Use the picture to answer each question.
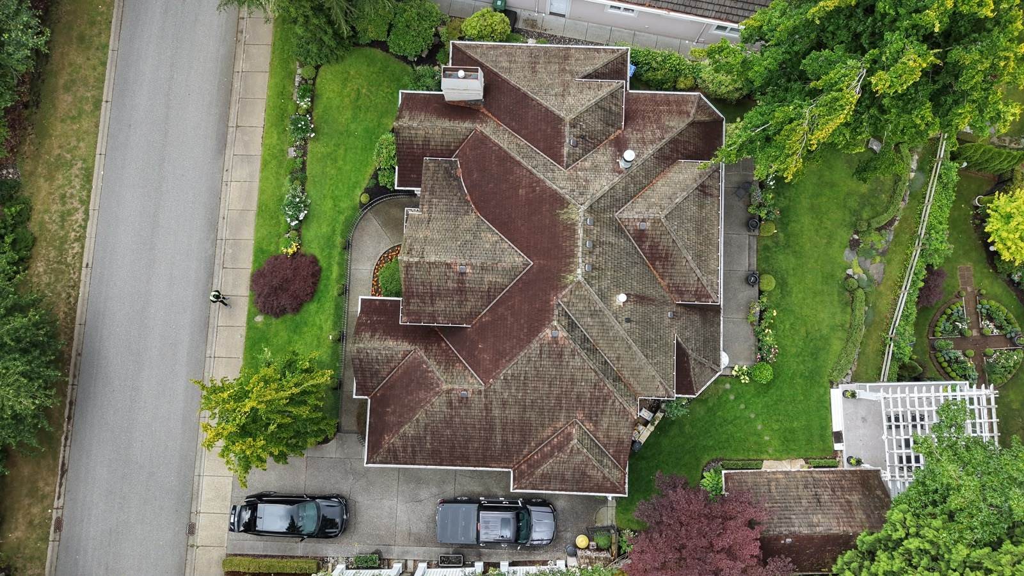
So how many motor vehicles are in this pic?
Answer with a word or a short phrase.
two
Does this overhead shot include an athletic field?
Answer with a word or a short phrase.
No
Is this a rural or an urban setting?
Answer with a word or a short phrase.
urban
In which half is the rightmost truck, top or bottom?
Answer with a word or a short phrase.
bottom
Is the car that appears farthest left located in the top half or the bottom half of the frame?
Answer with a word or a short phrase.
bottom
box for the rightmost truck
[431,494,562,556]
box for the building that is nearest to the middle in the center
[351,40,727,499]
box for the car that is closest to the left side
[228,490,350,547]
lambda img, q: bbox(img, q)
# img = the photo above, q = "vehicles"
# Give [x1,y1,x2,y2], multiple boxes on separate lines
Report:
[228,490,350,547]
[431,494,562,556]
